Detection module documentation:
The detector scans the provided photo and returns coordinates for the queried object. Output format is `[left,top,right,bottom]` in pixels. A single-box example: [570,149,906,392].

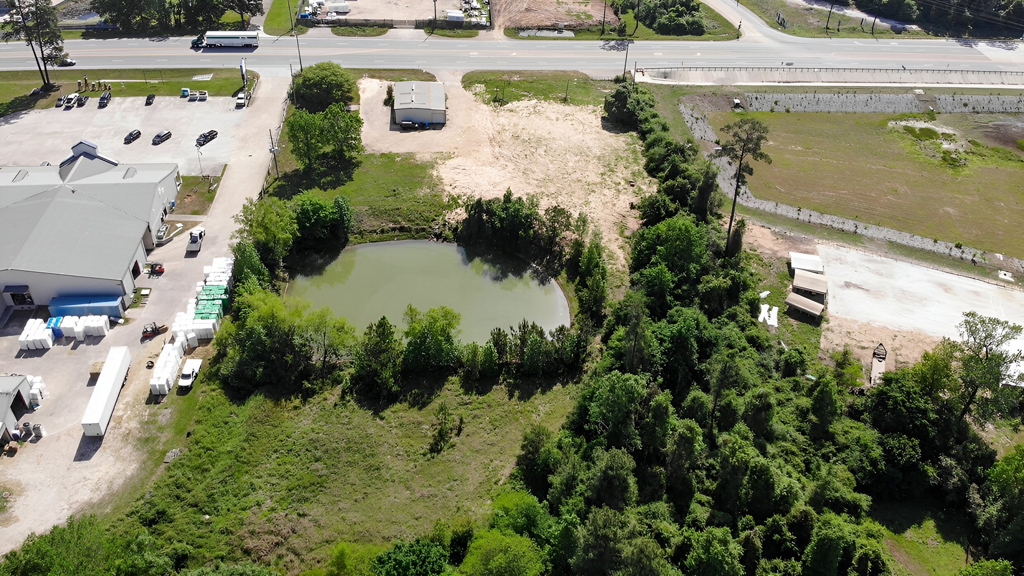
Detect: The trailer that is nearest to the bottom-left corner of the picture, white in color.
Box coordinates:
[81,347,133,436]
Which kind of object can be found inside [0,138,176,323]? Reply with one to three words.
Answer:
warehouse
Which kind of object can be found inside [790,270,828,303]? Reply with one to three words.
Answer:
shed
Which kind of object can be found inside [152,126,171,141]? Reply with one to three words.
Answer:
car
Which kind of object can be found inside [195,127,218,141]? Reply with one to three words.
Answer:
vehicle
